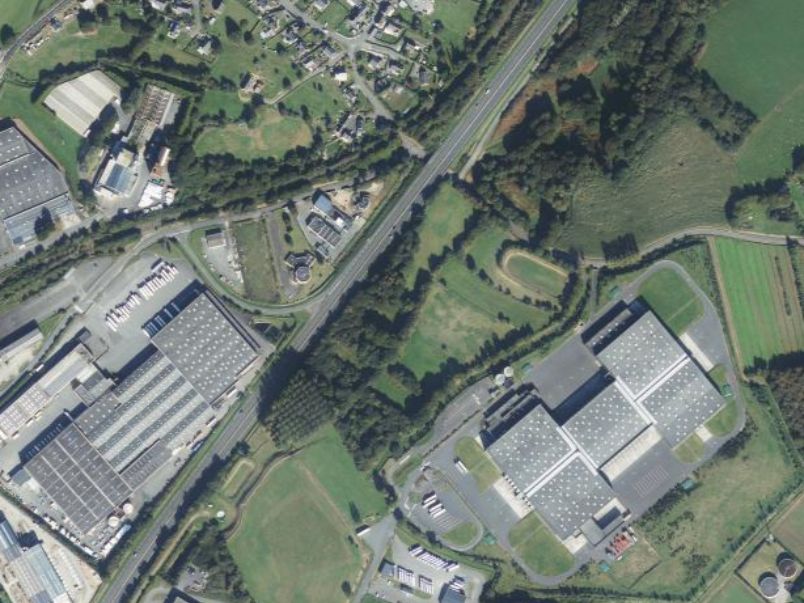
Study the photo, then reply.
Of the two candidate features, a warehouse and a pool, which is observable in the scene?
warehouse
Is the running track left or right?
right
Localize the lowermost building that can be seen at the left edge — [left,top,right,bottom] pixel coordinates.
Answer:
[11,543,71,603]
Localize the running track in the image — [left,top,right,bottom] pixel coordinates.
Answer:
[494,248,573,304]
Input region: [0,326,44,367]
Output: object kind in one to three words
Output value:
shed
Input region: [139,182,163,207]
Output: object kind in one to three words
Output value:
building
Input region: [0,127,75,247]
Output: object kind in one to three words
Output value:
building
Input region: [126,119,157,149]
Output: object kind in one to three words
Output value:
shed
